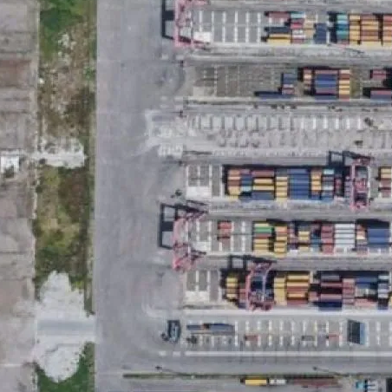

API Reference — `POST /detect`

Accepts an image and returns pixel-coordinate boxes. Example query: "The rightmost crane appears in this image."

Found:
[350,155,377,210]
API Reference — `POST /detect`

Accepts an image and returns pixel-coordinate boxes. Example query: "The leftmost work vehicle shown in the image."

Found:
[164,323,179,344]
